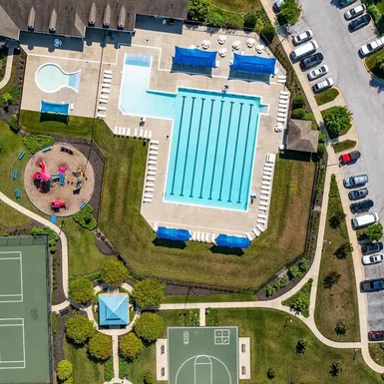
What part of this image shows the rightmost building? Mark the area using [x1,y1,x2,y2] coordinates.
[283,119,319,152]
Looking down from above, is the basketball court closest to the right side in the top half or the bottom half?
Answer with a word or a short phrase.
bottom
